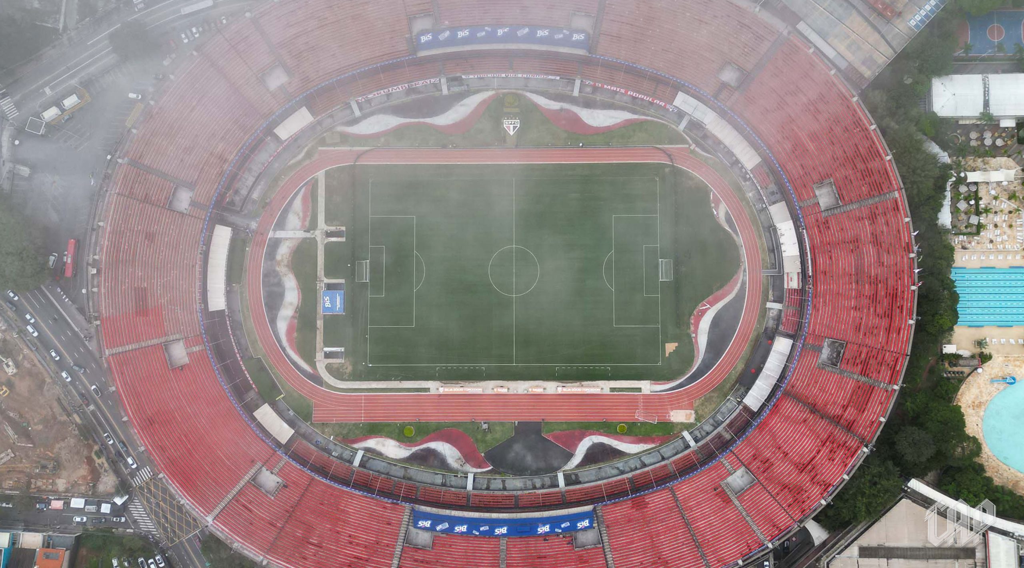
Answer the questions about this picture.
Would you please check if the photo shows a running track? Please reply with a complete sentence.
Yes, this view includes a running track.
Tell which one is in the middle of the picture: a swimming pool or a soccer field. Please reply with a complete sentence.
Visible in the middle of the picture is a soccer field.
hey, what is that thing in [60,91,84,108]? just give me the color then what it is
white vehicle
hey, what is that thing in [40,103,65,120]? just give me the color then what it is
white vehicle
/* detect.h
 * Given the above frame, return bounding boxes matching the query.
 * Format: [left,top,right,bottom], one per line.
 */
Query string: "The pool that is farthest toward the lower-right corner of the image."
[981,378,1024,474]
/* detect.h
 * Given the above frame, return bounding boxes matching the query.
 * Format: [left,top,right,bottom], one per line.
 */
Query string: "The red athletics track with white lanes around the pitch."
[248,147,762,423]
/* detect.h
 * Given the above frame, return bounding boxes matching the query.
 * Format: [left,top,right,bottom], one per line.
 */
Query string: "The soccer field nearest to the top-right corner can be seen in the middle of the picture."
[347,162,681,382]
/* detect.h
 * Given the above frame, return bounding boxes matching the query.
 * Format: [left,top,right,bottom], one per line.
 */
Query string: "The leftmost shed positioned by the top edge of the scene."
[796,19,850,69]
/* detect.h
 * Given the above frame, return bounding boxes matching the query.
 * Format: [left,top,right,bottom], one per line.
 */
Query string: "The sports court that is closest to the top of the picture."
[951,8,1024,56]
